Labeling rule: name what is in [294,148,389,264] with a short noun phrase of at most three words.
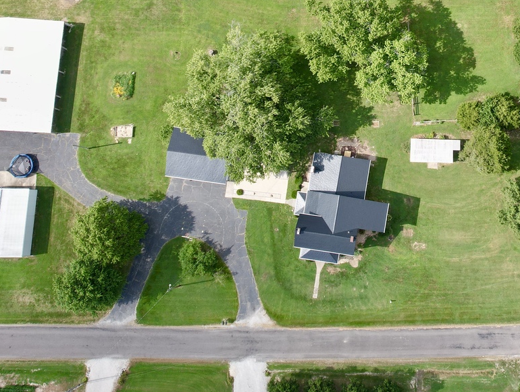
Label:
house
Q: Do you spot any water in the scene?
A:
No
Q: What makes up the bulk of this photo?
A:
grass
